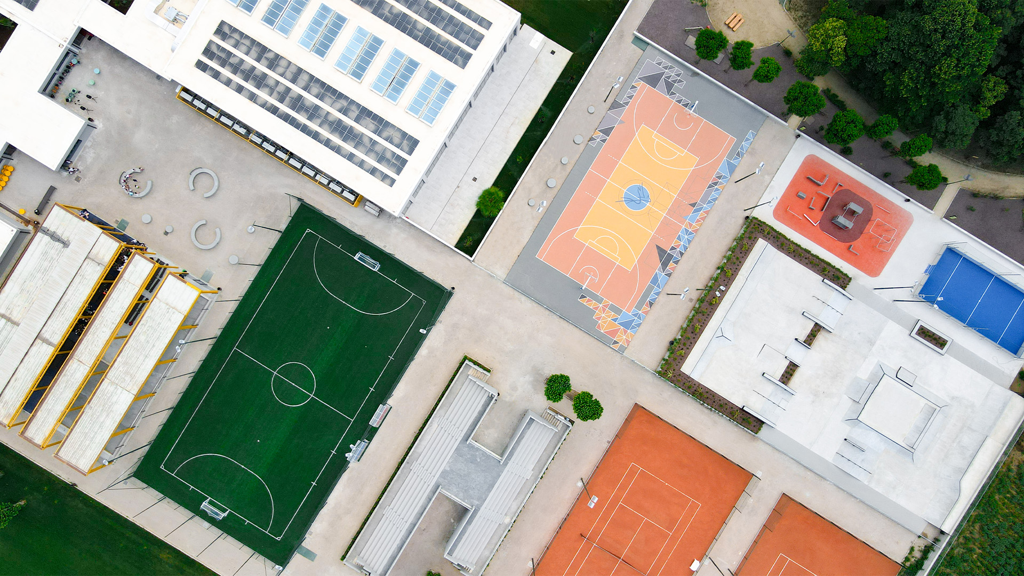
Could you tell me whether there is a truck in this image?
No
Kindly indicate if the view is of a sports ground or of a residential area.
sports ground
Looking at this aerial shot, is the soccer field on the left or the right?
left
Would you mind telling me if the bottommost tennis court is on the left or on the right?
right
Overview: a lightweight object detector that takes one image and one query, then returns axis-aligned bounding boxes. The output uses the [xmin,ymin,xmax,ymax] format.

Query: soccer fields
[133,203,453,571]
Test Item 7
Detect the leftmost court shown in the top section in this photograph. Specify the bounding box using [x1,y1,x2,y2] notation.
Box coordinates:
[505,47,766,351]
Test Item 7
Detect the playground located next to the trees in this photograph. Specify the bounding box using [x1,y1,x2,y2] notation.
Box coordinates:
[771,153,914,280]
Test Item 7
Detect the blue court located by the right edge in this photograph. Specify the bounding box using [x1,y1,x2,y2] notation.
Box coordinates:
[912,243,1024,365]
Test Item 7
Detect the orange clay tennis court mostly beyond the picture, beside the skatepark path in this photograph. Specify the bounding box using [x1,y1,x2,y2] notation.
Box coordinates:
[733,494,902,576]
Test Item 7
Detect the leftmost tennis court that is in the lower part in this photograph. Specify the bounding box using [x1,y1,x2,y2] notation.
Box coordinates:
[533,404,754,576]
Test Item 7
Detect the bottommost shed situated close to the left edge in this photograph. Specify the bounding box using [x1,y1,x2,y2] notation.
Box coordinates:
[0,215,30,283]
